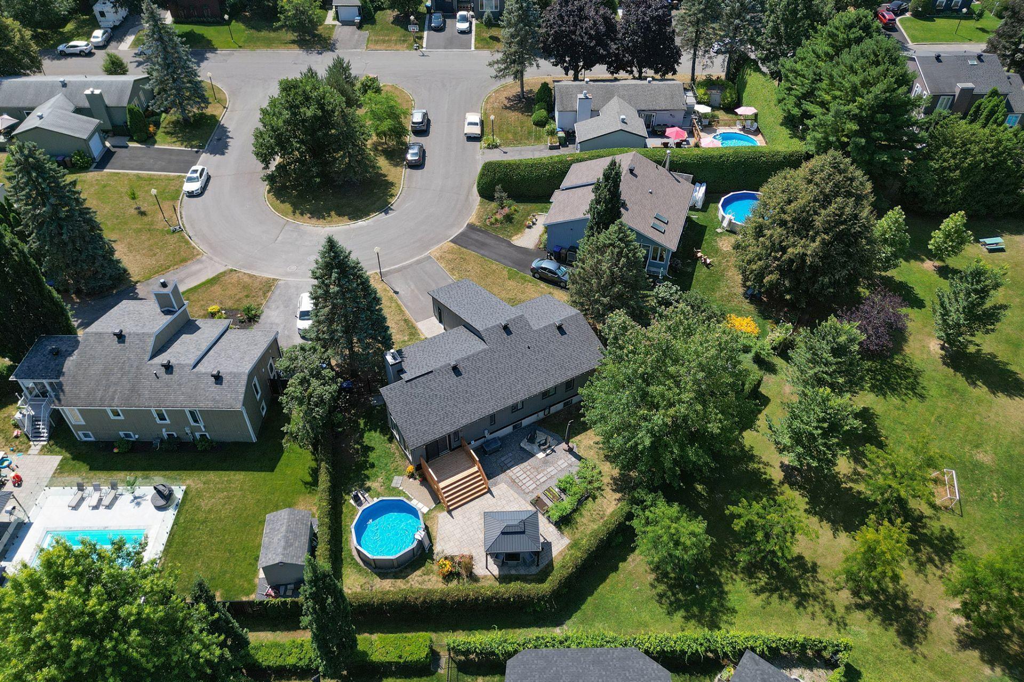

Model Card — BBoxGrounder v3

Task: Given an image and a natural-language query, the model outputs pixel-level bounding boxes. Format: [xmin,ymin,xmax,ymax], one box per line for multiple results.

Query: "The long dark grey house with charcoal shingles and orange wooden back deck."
[381,279,612,470]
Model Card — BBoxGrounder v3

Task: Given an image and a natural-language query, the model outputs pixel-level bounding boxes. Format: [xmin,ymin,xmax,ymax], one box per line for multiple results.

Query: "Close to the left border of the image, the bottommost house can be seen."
[12,284,280,438]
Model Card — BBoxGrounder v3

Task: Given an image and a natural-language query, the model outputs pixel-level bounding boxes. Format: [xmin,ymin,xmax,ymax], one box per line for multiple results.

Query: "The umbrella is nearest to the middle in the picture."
[561,420,579,457]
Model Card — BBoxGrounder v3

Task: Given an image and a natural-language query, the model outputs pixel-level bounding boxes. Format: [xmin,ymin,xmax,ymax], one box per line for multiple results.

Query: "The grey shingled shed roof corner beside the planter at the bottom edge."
[712,651,779,682]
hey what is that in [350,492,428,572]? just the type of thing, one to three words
swimming pool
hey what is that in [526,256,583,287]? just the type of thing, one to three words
car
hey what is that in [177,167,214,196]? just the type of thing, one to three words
car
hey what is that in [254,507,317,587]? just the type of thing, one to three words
shed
